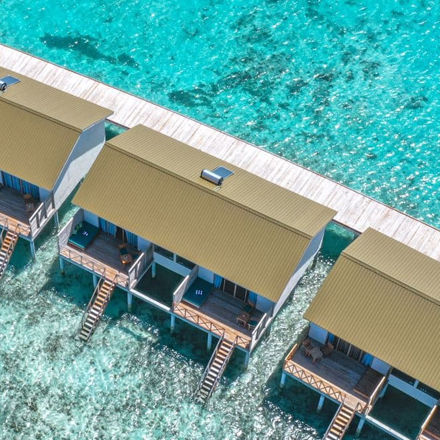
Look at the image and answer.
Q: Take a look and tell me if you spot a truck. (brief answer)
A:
No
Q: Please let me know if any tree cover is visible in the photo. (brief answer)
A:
No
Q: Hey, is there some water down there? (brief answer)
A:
Yes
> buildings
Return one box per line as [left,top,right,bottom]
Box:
[57,124,337,404]
[281,228,440,440]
